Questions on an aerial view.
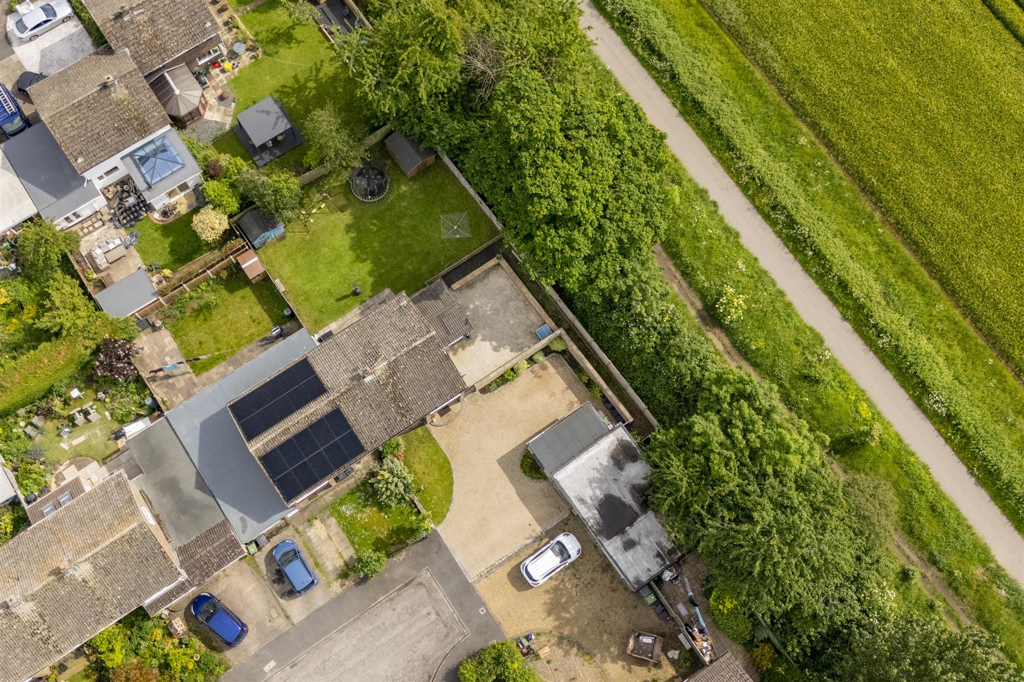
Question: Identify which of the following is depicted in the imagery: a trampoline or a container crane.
trampoline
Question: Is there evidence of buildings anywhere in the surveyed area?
Yes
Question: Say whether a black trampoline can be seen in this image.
Yes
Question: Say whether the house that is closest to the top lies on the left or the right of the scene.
left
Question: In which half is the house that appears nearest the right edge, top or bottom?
bottom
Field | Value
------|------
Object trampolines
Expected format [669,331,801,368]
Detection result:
[347,161,388,205]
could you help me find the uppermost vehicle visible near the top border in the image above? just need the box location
[12,4,77,45]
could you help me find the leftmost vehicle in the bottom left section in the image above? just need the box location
[194,591,249,651]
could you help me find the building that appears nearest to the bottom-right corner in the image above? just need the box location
[671,649,751,682]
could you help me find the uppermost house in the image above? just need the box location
[96,0,234,81]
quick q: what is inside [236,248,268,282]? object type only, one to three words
shed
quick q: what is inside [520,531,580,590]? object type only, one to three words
car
